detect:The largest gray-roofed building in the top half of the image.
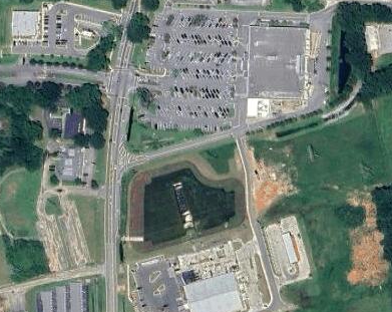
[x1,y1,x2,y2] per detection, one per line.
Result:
[245,25,314,101]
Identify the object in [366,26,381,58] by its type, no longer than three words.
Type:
building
